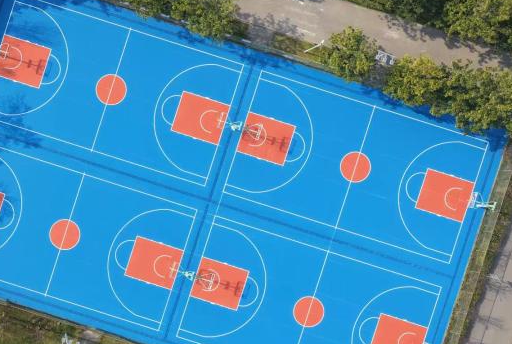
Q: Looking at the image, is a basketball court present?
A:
Yes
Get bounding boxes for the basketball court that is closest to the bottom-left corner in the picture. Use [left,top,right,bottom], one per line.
[0,134,206,344]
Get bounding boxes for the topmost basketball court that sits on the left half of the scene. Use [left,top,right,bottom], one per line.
[0,0,253,196]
